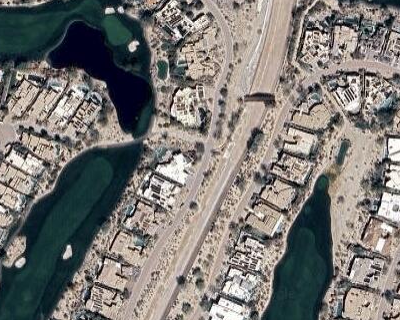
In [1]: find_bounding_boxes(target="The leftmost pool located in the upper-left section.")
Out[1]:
[22,69,49,85]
